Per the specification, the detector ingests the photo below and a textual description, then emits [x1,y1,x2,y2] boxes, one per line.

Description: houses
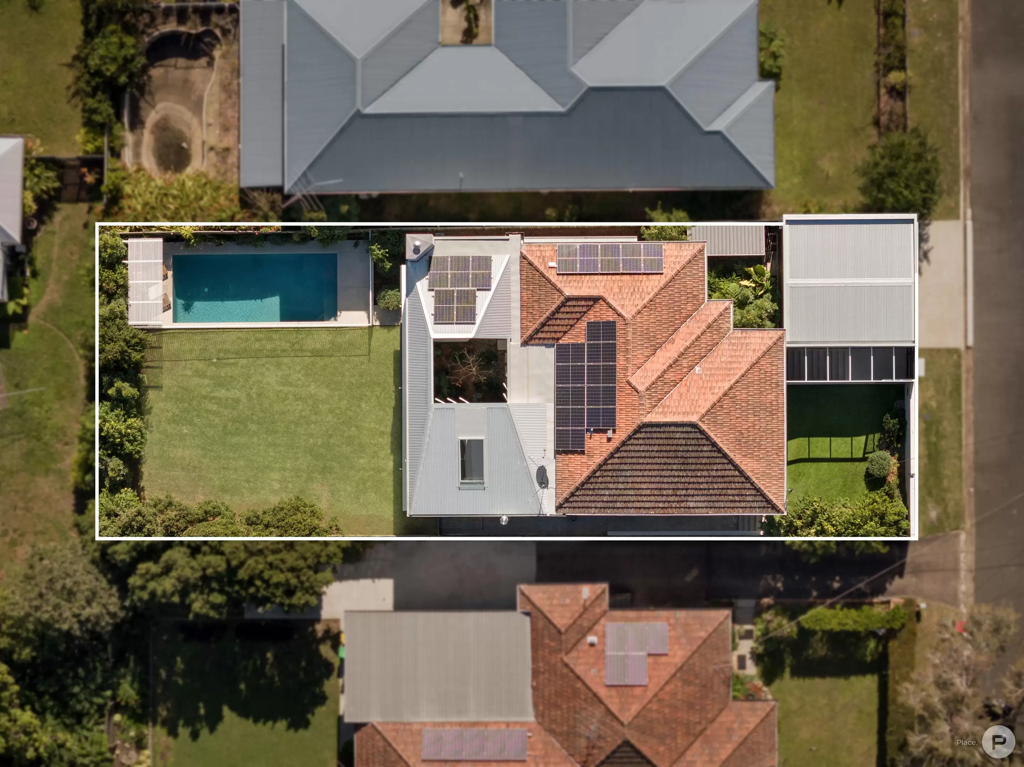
[344,580,780,767]
[237,0,778,199]
[0,135,35,301]
[400,232,789,518]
